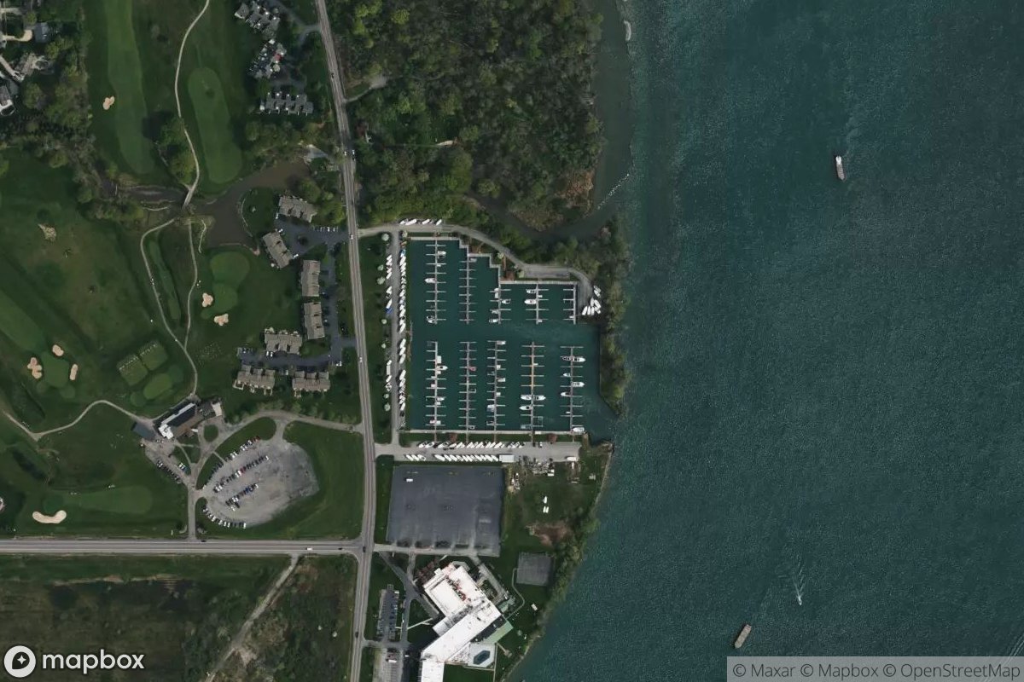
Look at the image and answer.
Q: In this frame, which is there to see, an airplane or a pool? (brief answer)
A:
pool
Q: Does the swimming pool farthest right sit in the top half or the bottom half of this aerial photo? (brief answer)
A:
bottom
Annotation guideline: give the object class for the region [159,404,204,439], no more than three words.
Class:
building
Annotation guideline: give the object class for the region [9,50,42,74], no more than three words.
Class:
house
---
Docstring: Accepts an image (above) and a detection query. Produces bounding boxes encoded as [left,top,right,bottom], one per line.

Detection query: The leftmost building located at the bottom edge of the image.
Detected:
[419,562,515,682]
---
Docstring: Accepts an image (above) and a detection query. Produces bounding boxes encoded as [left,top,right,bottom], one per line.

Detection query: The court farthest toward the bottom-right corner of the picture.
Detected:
[516,553,551,587]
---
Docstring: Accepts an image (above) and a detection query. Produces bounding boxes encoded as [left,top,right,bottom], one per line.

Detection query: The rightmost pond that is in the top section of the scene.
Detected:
[94,158,309,249]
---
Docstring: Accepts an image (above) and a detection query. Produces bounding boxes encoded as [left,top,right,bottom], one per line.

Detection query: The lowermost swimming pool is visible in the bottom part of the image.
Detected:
[470,643,495,668]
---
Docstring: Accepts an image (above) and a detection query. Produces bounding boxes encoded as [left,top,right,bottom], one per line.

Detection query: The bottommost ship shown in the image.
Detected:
[736,624,751,647]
